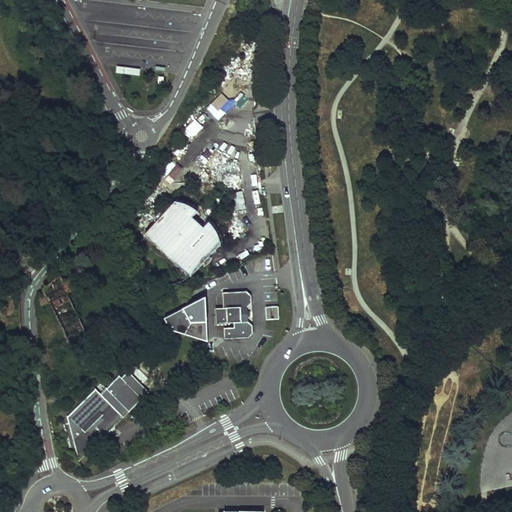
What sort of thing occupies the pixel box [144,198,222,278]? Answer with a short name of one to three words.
building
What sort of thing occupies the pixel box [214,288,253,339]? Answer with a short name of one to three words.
building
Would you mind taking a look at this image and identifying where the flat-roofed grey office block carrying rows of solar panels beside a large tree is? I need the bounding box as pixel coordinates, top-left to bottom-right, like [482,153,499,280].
[64,375,148,459]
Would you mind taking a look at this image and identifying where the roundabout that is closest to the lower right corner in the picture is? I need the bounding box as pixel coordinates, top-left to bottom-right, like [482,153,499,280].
[258,323,378,460]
